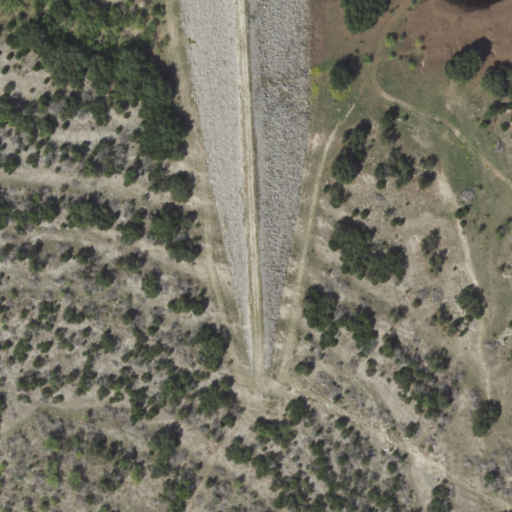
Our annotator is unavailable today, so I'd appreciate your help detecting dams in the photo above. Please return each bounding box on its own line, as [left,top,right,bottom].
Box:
[182,0,312,380]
